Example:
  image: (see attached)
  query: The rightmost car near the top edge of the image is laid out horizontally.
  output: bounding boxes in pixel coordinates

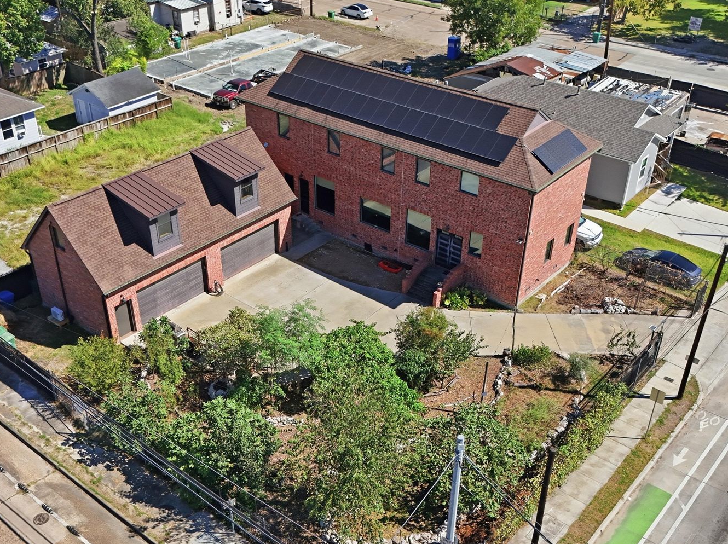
[337,3,375,21]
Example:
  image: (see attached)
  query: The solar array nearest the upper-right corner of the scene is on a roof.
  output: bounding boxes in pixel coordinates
[533,130,589,175]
